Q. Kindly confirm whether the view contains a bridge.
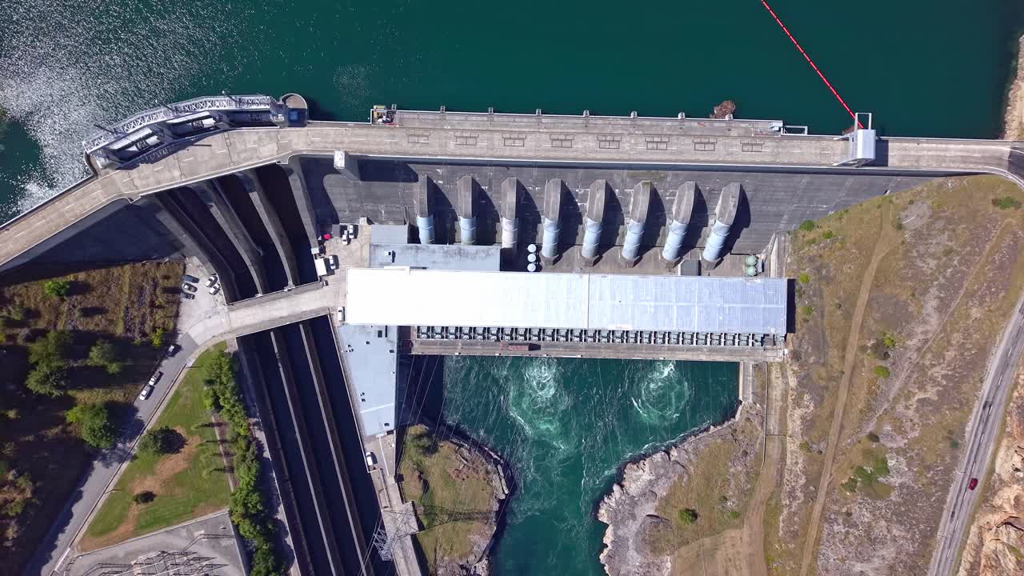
Yes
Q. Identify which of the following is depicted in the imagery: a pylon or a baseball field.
pylon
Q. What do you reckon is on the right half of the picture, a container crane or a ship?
container crane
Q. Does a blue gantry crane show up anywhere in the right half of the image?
No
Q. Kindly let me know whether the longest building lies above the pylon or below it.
above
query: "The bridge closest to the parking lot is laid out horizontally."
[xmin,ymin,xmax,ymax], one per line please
[227,281,333,336]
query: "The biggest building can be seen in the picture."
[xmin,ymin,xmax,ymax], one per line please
[345,268,788,362]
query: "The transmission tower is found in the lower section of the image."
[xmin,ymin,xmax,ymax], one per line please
[374,506,415,557]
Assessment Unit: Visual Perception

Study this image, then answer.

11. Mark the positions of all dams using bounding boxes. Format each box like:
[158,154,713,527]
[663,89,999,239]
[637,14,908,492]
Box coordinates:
[0,92,1024,287]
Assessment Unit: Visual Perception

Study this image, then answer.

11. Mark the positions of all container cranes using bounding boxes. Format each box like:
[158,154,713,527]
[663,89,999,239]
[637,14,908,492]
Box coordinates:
[832,112,880,165]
